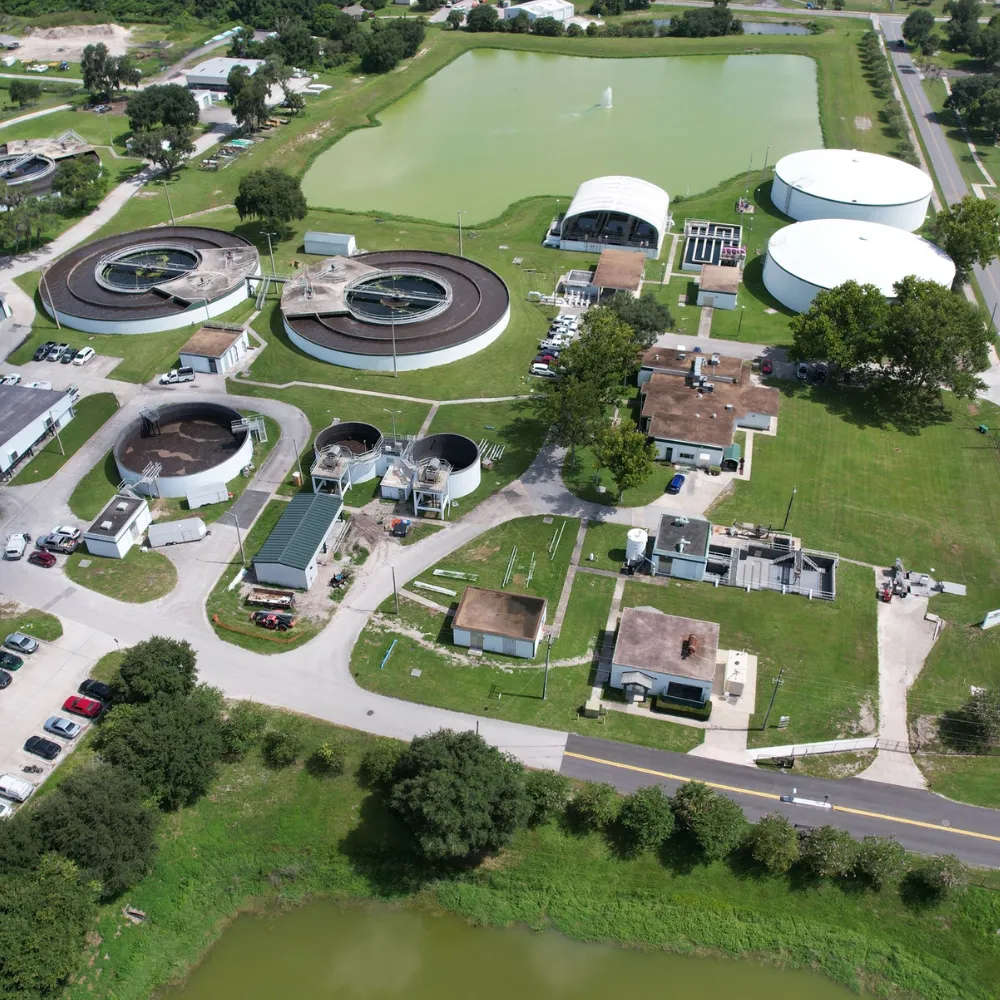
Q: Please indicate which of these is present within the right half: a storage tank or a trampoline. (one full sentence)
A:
The one visible within the right half is a storage tank.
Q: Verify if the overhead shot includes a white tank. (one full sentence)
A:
Yes, the picture does show a white tank.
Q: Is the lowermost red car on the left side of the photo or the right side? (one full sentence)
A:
The lowermost red car sits on the left side.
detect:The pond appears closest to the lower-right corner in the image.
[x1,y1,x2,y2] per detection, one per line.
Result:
[148,896,874,1000]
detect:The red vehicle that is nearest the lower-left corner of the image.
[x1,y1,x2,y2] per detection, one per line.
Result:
[60,696,104,720]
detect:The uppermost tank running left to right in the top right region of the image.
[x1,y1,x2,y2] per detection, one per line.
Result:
[771,148,934,226]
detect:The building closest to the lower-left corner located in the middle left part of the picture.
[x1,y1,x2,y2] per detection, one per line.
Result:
[84,498,147,557]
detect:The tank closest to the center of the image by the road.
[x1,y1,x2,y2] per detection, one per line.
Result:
[408,433,480,521]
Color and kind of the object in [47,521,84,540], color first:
white car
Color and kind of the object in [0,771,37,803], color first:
white van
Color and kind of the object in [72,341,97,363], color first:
white vehicle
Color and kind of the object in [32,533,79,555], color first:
gray truck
